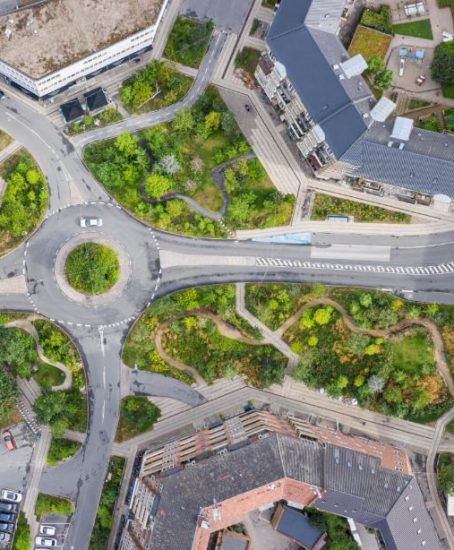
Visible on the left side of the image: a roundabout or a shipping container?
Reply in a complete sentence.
You can see a roundabout on the left side of the image.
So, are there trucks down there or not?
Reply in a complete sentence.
No, there's no truck here.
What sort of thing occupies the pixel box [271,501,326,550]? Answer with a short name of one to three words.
building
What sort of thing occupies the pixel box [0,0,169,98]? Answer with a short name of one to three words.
building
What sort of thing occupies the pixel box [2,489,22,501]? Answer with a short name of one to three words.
vehicle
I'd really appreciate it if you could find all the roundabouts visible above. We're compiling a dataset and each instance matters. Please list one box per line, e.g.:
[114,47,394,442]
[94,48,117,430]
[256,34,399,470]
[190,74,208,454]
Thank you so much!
[23,202,161,327]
